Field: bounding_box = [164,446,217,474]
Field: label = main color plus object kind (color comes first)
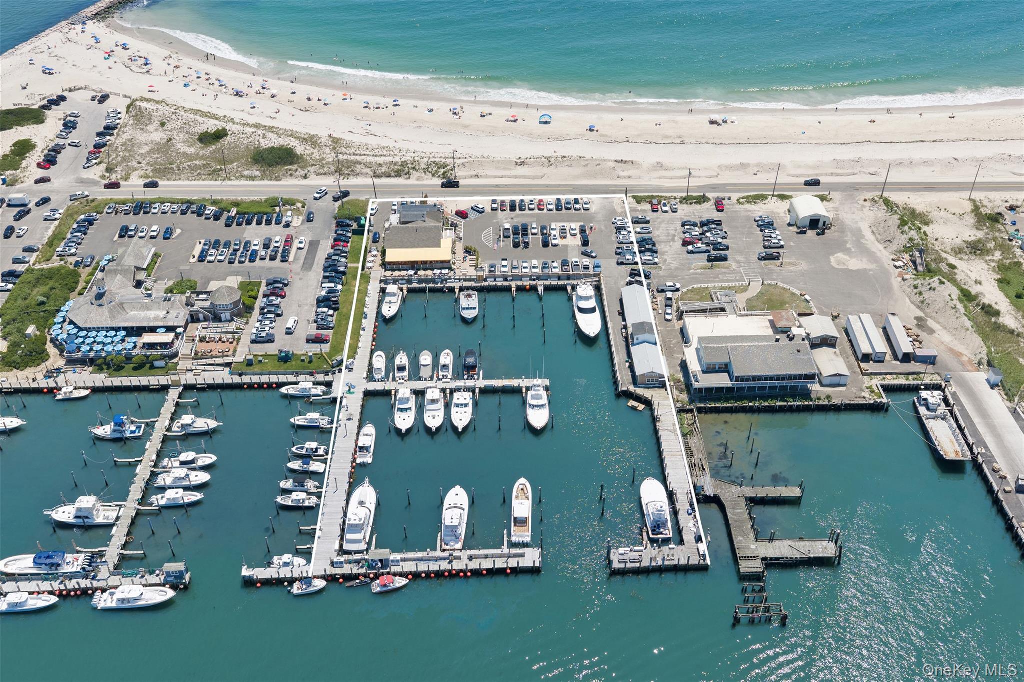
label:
white boat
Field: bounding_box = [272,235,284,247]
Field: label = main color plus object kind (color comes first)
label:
white vehicle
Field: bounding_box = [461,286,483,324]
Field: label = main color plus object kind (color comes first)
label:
white boat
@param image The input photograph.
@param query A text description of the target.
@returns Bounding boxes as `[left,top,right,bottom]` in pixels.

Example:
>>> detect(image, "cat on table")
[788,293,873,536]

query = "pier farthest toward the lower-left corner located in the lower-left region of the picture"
[0,571,188,597]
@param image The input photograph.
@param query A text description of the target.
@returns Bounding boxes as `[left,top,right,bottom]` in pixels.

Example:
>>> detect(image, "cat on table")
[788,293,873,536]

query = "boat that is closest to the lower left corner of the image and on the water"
[0,594,59,616]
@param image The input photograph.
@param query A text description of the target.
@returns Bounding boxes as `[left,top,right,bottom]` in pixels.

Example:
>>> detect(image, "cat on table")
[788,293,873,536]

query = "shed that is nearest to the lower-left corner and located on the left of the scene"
[163,564,186,582]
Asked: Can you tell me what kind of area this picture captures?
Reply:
port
